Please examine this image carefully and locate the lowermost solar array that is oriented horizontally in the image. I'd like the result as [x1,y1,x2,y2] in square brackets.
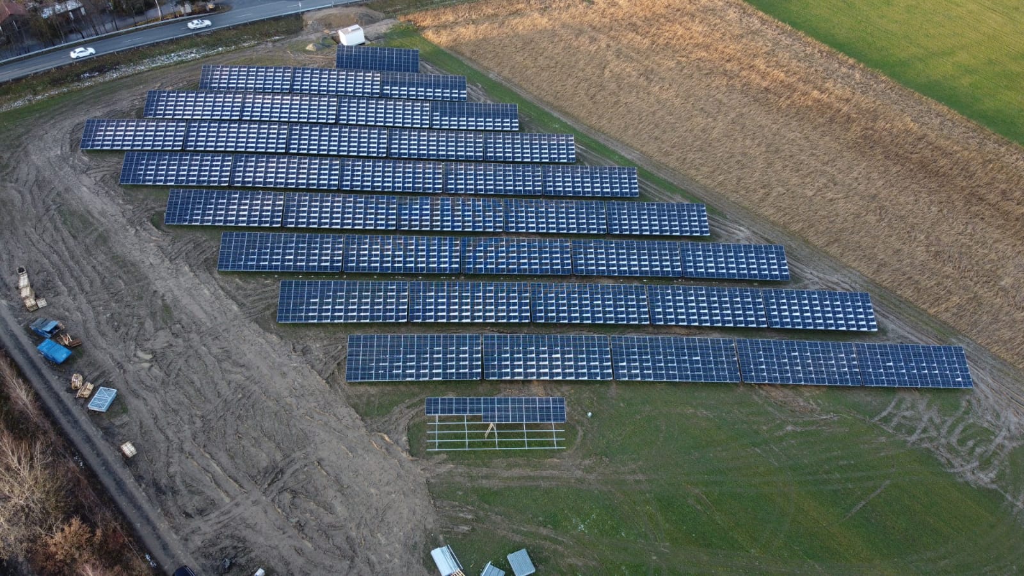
[426,398,567,449]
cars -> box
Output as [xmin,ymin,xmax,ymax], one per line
[188,20,210,30]
[69,48,95,59]
[174,560,200,576]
